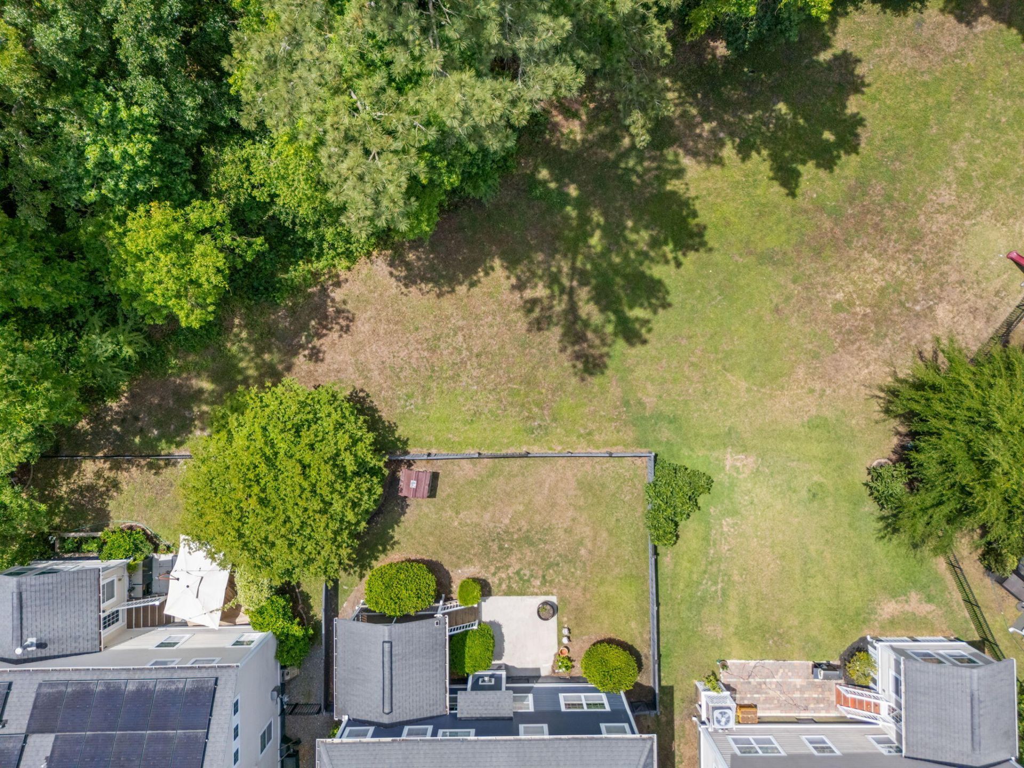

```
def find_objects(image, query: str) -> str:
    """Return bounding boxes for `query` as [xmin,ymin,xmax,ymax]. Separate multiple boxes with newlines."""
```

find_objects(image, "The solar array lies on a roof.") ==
[0,688,215,768]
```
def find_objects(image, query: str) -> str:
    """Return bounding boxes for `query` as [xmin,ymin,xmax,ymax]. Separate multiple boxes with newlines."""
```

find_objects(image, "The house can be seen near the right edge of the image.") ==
[687,628,1024,768]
